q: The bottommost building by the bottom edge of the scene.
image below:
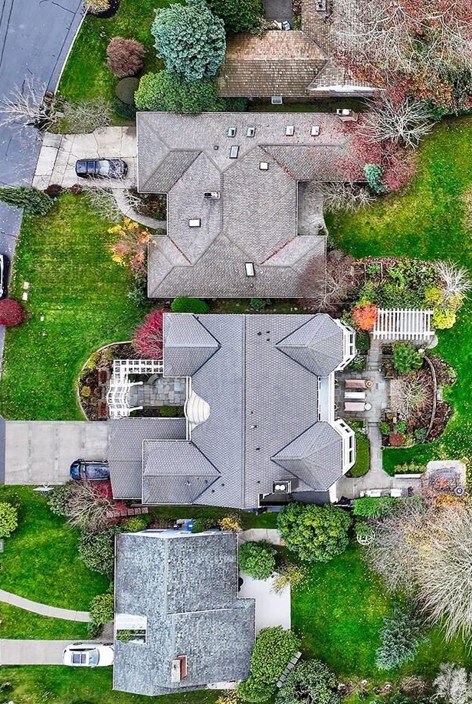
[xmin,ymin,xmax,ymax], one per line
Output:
[113,527,264,694]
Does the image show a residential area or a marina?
residential area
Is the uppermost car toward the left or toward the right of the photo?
left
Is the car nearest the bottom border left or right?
left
